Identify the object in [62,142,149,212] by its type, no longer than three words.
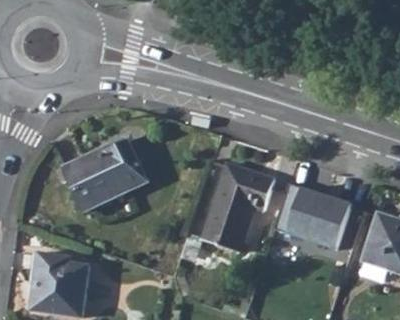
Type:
house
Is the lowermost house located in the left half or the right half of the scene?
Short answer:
left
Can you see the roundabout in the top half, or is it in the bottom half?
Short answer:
top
